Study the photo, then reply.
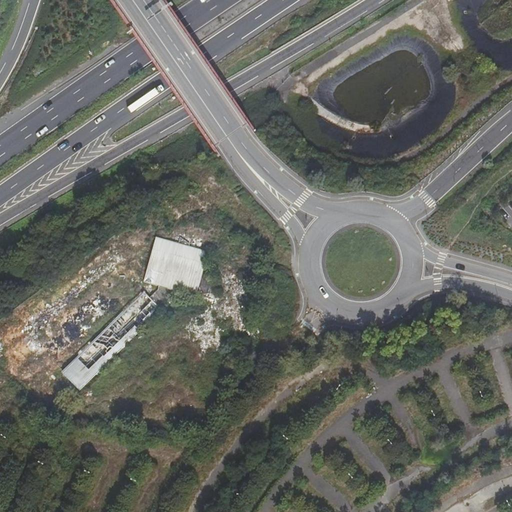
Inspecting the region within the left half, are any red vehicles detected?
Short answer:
No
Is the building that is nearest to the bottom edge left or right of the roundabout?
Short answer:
to its left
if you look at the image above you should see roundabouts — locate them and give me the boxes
[300,202,422,322]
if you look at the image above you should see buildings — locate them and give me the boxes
[143,236,202,290]
[61,292,156,390]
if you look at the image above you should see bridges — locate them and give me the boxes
[109,0,256,154]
